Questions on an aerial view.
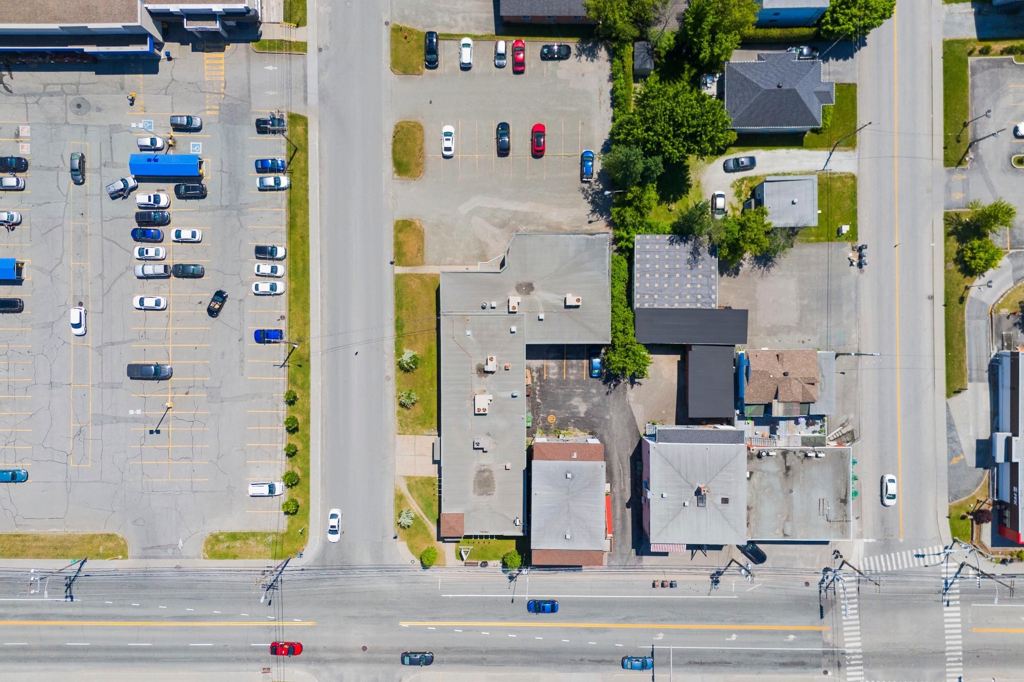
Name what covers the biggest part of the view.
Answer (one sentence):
The bulk of the photo consists of paved ground.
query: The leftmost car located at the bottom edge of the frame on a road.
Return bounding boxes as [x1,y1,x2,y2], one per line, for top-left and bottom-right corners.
[270,639,304,658]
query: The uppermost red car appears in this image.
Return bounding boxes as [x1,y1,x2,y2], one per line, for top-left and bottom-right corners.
[511,40,527,75]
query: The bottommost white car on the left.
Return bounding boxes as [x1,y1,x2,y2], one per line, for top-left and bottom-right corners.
[326,508,342,542]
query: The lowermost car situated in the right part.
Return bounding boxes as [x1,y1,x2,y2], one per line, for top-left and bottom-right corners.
[621,654,653,672]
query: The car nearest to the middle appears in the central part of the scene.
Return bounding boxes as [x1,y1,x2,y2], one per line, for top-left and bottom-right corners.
[589,348,604,378]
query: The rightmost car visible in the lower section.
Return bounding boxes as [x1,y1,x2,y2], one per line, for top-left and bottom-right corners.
[879,474,898,506]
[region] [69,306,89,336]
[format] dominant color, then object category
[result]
white car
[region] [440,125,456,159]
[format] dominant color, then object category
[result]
white car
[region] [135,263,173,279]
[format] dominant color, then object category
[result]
white vehicle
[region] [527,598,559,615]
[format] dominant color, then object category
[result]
blue car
